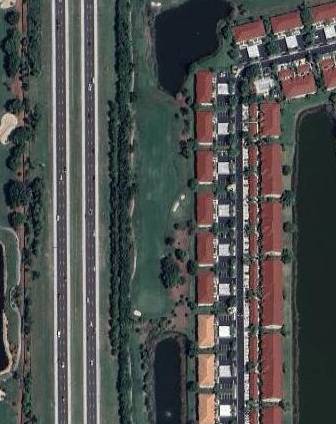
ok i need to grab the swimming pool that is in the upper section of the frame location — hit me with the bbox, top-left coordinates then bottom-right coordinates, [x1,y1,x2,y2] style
[255,78,274,95]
